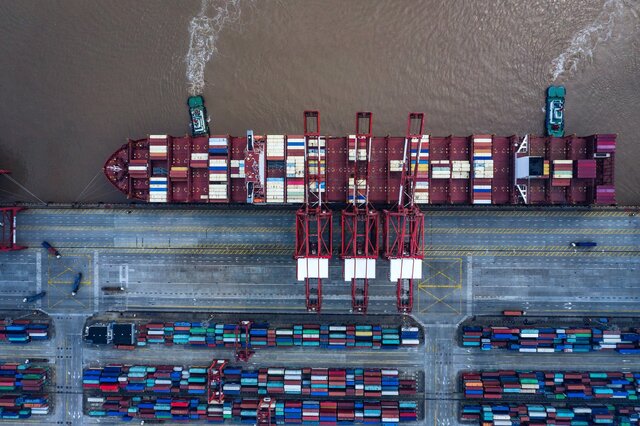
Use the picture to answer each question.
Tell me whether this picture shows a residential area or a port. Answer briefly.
port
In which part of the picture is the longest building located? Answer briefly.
bottom left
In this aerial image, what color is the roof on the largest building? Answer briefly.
black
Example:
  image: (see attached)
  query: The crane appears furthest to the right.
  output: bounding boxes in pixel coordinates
[379,112,425,309]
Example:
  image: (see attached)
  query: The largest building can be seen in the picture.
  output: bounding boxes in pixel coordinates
[87,322,138,345]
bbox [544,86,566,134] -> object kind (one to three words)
boat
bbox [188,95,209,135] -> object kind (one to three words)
boat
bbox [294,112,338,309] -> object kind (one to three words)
container crane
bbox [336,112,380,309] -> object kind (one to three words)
container crane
